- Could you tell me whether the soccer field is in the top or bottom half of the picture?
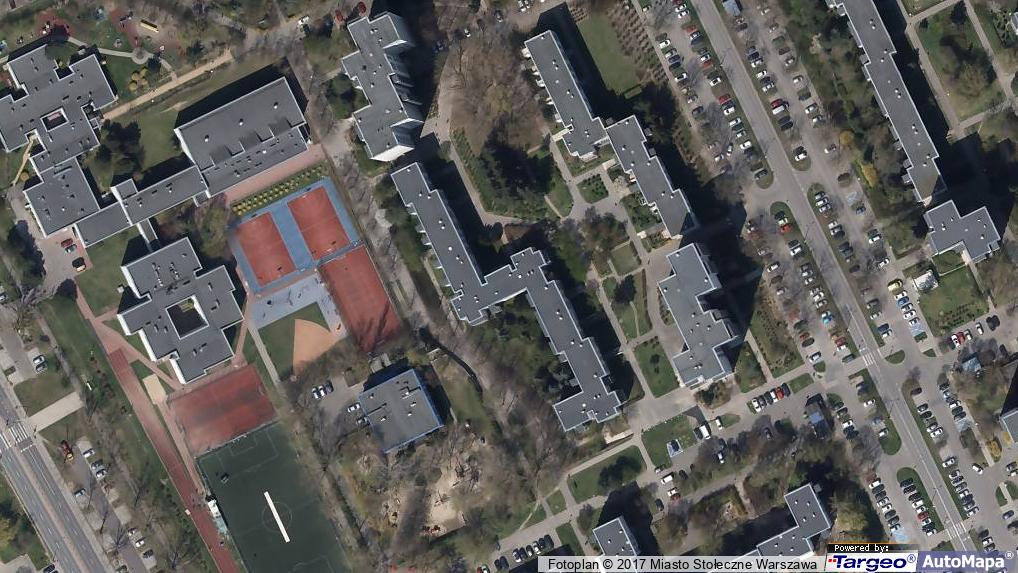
bottom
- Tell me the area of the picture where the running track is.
bottom left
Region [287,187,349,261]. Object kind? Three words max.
basketball court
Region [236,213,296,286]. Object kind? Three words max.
basketball court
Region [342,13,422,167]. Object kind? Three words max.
building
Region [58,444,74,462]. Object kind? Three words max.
vehicle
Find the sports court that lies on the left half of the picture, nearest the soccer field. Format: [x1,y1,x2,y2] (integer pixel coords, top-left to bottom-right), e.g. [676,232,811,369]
[168,364,276,455]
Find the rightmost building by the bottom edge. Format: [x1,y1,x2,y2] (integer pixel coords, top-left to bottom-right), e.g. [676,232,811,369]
[758,484,832,573]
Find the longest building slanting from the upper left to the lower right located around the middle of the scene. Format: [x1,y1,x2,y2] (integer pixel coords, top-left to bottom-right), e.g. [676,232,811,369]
[392,162,624,435]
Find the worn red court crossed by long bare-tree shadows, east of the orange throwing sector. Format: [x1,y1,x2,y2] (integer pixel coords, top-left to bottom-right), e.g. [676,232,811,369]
[318,245,405,352]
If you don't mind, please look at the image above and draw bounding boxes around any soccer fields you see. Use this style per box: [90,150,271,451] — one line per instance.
[197,421,355,573]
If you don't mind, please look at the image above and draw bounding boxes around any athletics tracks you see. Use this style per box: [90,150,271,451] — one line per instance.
[108,349,236,573]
